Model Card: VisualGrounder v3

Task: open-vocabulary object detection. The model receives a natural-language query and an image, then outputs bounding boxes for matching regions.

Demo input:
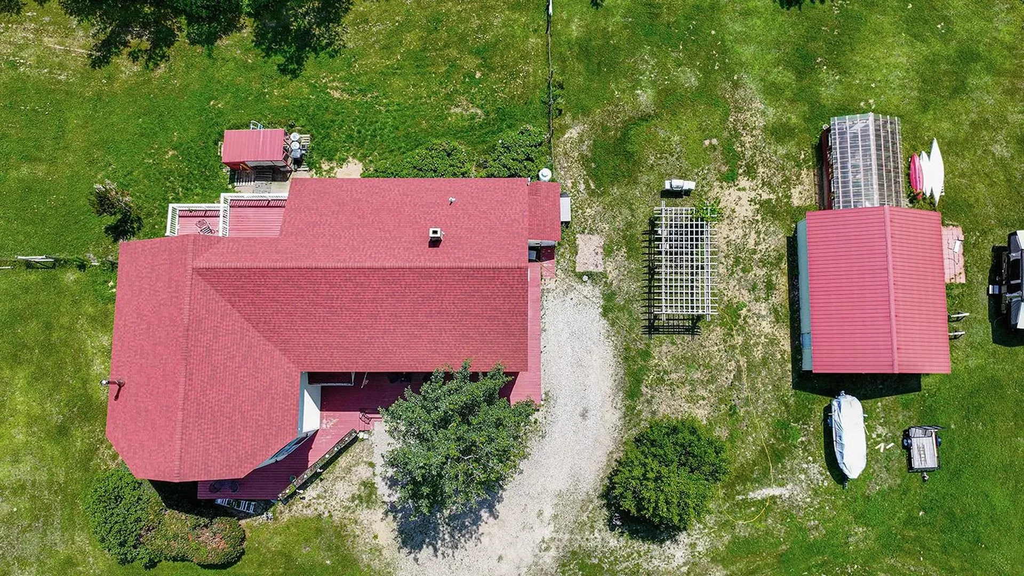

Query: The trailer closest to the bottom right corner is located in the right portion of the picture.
[900,430,944,491]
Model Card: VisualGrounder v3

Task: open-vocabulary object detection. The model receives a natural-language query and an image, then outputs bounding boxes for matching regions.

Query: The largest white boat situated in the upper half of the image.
[927,138,945,205]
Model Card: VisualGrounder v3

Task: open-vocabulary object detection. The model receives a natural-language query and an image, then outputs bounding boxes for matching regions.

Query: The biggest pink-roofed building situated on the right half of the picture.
[797,205,952,374]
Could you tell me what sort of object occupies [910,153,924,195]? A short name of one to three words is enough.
boat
